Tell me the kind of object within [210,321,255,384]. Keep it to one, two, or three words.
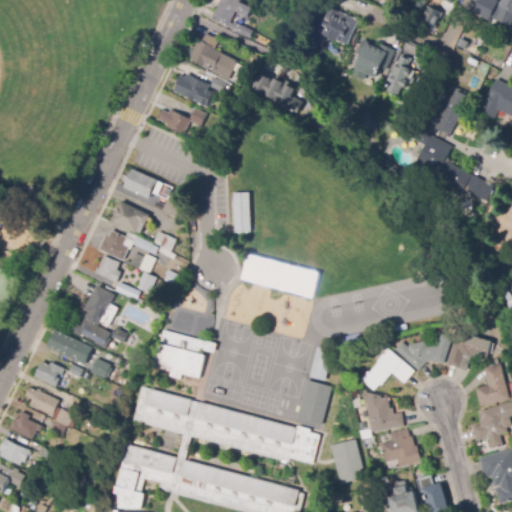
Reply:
basketball court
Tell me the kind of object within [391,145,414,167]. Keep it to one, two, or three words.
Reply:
swimming pool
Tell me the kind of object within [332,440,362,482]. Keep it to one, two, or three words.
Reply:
building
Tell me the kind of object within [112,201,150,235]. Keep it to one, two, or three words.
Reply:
house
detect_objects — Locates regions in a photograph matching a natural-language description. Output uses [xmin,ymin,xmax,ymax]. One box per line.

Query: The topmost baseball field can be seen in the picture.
[0,0,166,186]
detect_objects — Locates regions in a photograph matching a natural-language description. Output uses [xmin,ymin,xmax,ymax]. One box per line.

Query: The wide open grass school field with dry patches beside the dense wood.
[227,100,426,296]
